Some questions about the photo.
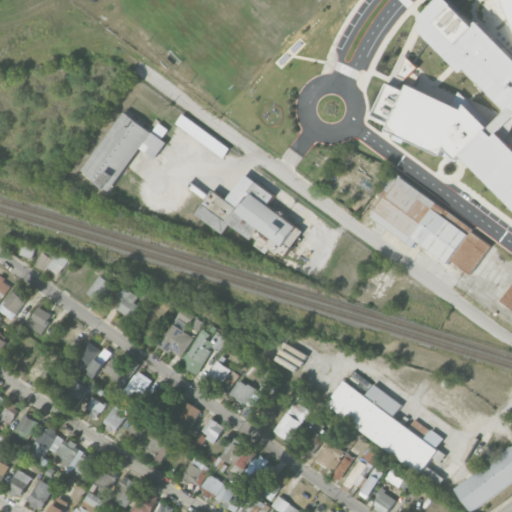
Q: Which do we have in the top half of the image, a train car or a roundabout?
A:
roundabout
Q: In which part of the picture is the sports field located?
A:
top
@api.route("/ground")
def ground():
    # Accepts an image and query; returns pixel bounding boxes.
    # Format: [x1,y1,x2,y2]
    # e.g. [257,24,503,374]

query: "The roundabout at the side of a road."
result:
[296,73,365,143]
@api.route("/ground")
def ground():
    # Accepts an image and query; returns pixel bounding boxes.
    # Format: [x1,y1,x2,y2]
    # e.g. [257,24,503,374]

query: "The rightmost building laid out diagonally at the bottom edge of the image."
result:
[453,444,512,510]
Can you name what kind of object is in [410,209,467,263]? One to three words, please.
building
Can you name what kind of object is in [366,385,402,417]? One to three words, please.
shed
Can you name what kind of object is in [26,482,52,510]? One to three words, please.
house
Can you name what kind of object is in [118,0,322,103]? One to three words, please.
sports field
